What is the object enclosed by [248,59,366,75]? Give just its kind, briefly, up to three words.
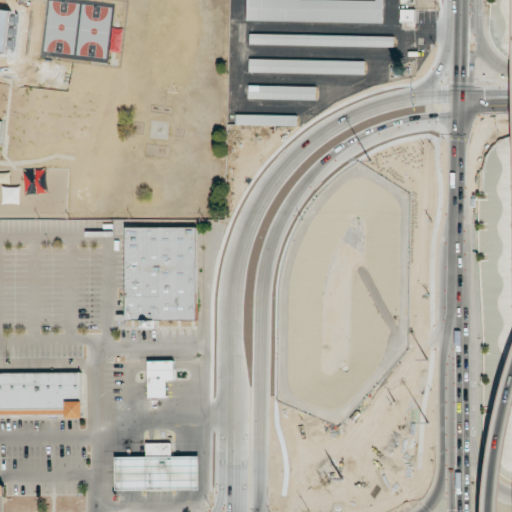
building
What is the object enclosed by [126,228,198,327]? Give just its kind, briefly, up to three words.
building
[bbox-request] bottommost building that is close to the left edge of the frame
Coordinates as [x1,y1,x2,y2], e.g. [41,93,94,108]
[0,374,84,418]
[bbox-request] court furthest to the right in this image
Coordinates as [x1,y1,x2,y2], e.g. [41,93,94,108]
[77,4,112,59]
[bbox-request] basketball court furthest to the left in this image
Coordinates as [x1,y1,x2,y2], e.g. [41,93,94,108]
[44,1,80,55]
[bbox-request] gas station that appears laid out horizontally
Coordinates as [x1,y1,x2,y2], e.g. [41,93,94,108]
[114,456,198,491]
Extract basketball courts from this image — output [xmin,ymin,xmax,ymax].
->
[44,1,80,55]
[77,4,112,59]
